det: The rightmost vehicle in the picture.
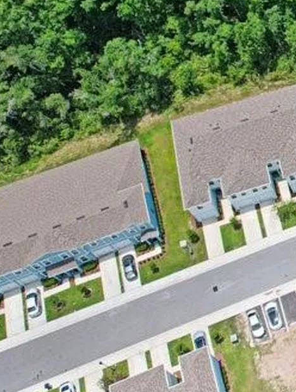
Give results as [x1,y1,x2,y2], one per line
[265,300,282,332]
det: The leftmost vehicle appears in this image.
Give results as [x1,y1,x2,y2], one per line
[25,288,44,319]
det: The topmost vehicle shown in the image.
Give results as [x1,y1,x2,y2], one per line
[121,252,140,283]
